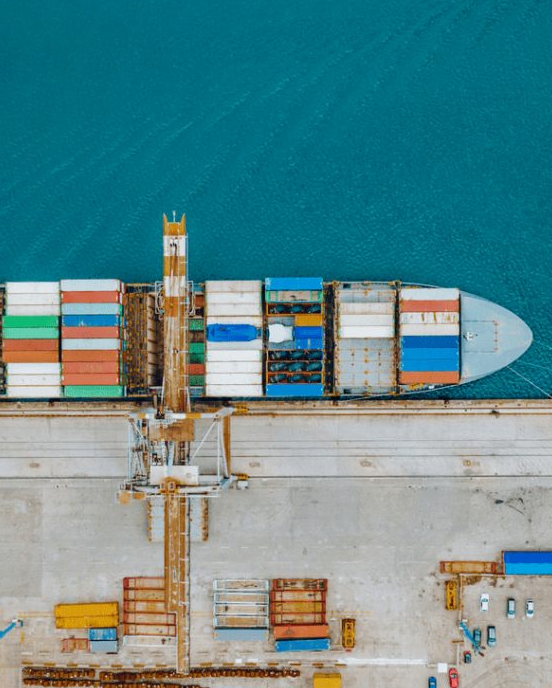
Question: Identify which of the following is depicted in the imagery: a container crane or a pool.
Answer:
container crane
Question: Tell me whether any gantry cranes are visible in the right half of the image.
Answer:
No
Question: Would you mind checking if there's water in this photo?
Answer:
Yes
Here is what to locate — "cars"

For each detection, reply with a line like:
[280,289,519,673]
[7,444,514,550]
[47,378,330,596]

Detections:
[480,592,489,612]
[428,676,436,688]
[449,668,458,688]
[525,599,534,617]
[463,650,471,664]
[487,625,496,647]
[507,598,515,618]
[473,628,482,646]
